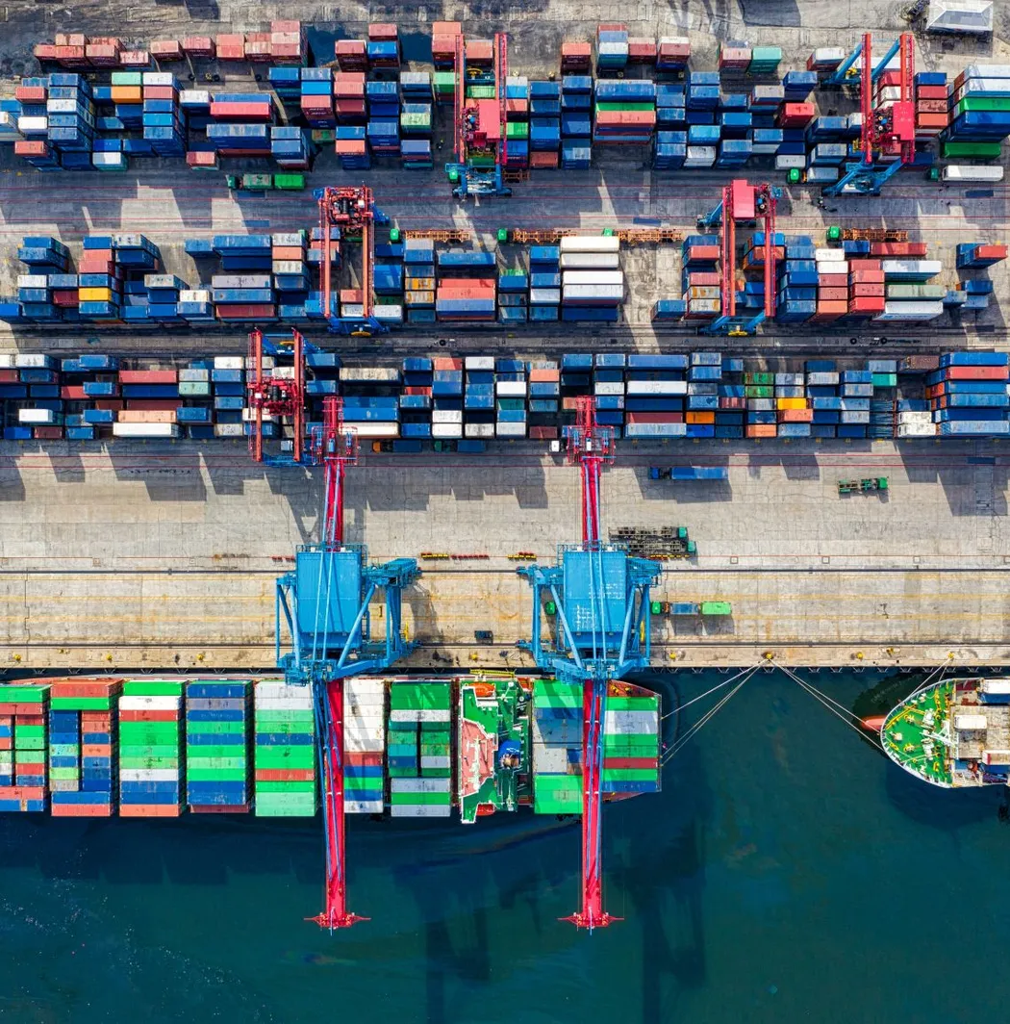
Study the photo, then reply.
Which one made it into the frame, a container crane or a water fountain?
container crane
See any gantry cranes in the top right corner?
Yes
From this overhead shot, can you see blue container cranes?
Yes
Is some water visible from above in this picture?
Yes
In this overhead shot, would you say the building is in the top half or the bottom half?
top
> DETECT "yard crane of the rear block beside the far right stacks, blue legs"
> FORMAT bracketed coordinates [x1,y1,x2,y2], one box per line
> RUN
[825,34,917,196]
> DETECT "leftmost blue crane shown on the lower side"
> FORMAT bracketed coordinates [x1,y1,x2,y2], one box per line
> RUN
[271,399,423,935]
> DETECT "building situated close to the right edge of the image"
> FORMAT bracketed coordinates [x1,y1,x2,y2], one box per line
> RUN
[924,0,992,34]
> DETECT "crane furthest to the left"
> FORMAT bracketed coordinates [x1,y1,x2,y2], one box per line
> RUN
[250,332,326,469]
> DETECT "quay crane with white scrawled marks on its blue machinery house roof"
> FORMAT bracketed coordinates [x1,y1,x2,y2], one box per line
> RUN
[510,399,663,935]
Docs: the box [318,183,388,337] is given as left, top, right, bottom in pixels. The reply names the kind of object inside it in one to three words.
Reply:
container crane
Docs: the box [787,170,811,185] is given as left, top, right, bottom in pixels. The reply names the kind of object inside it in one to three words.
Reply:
vehicle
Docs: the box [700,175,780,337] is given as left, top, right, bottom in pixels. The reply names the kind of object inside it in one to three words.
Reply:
container crane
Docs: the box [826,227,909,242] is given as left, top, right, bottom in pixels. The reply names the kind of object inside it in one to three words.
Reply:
vehicle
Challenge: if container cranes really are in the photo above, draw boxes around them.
[450,34,510,197]
[271,399,423,935]
[318,183,388,337]
[700,175,780,337]
[510,399,663,935]
[250,332,326,469]
[825,34,917,196]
